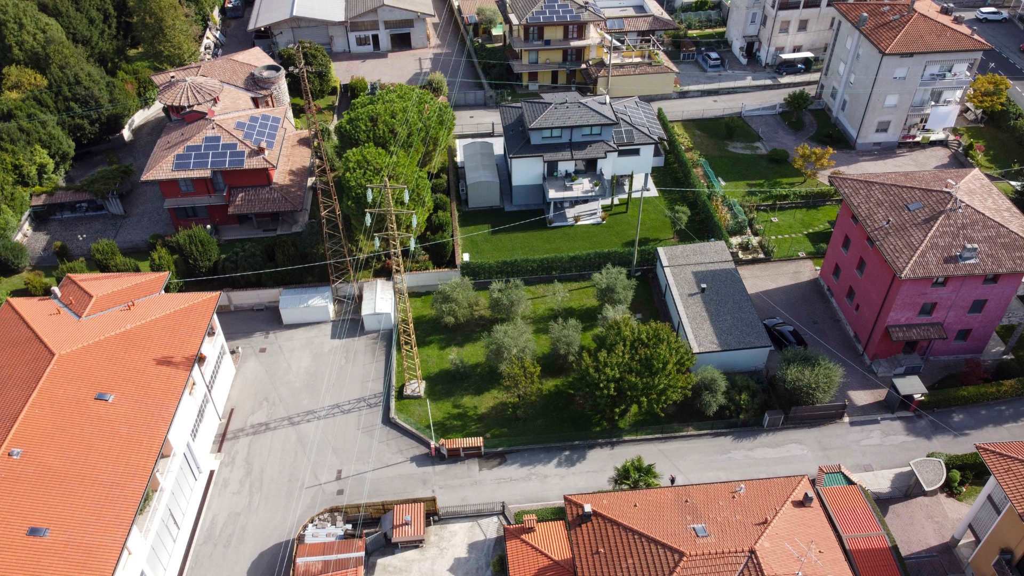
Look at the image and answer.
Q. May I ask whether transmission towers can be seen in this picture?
Yes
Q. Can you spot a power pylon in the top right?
No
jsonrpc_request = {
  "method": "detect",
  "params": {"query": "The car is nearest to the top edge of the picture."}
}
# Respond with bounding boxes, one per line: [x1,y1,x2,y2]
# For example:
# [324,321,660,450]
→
[979,9,1007,22]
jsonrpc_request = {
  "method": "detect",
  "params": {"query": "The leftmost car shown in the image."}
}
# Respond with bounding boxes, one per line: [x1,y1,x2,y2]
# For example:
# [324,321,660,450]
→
[704,54,719,67]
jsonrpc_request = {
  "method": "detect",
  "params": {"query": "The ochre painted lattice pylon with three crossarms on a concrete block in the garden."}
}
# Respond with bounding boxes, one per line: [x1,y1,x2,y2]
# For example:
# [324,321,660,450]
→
[366,172,426,400]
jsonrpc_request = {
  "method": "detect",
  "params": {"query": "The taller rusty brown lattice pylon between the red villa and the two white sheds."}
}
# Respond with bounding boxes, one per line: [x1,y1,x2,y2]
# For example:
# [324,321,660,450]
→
[288,44,357,319]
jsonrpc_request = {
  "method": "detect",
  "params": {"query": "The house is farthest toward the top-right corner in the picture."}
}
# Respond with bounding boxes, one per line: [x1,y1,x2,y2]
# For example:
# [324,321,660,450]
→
[817,0,995,148]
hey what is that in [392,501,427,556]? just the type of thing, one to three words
shed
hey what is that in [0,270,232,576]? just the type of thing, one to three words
building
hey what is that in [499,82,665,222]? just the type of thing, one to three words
house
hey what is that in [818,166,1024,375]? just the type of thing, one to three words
house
